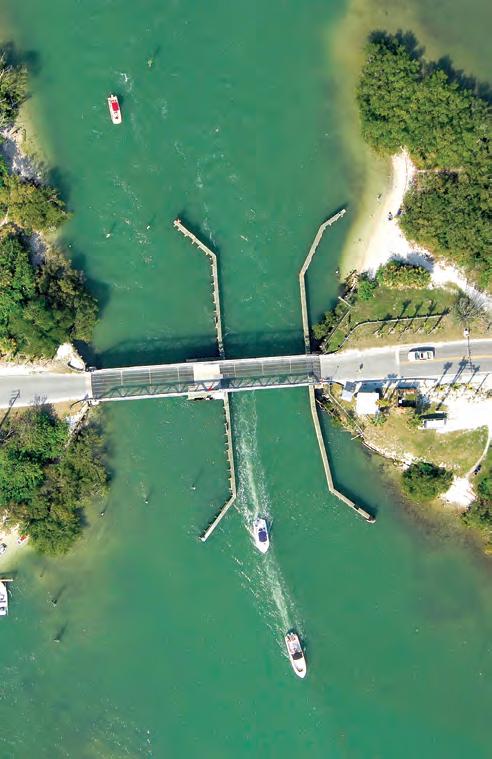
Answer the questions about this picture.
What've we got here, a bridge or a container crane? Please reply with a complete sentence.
It is a bridge that can be seen here.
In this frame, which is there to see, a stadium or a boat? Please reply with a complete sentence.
This aerial view contains a boat.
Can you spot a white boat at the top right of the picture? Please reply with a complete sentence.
No, no white boat is visible at the top right of the picture.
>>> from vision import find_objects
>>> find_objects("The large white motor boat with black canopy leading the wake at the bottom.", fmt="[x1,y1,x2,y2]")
[285,632,305,678]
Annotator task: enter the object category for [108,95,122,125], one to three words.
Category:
boat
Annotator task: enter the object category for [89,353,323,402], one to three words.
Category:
bridge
